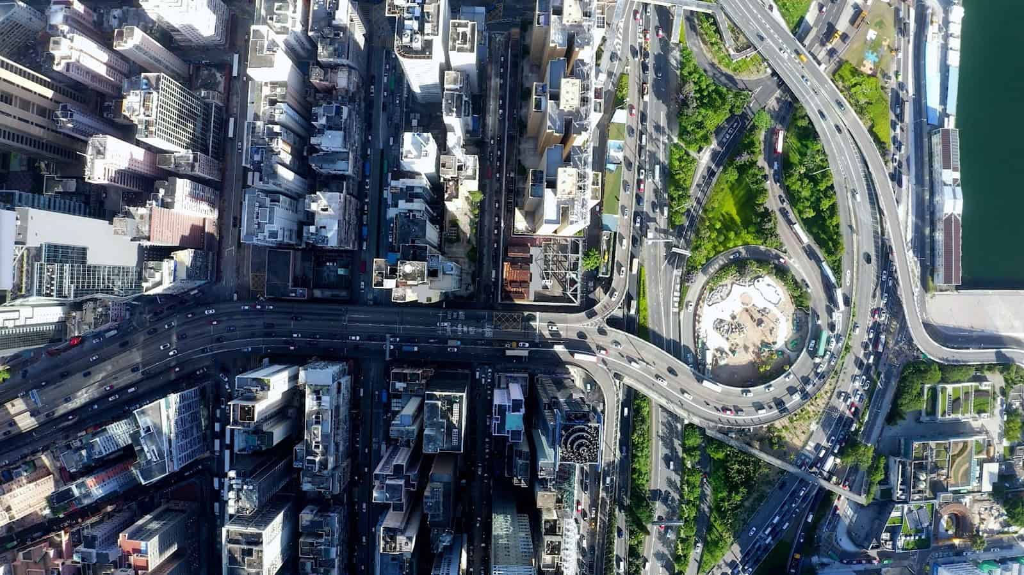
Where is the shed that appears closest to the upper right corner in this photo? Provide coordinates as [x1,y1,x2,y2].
[941,5,963,68]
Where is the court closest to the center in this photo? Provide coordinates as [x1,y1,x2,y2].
[603,168,620,214]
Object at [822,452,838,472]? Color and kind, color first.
white vehicle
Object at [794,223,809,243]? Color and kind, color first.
white vehicle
